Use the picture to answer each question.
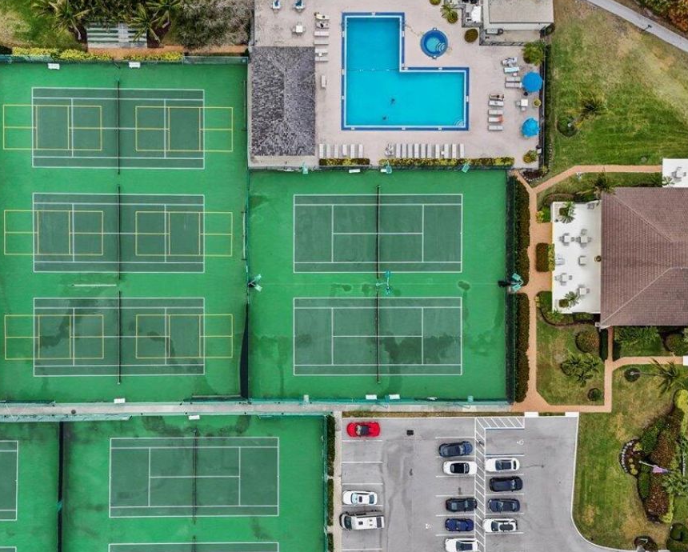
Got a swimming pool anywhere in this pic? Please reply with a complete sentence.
Yes, a swimming pool is visible in the scene.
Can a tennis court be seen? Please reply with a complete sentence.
Yes, I can see a tennis court in this picture.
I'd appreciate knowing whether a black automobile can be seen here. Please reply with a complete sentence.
Yes, a black automobile appears in the view.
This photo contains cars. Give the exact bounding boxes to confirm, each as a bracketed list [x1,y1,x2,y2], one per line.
[487,476,523,493]
[481,517,518,535]
[437,442,472,458]
[442,498,478,514]
[346,422,380,438]
[442,517,476,534]
[342,491,377,505]
[486,498,520,514]
[443,461,476,477]
[484,458,519,475]
[443,537,480,552]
